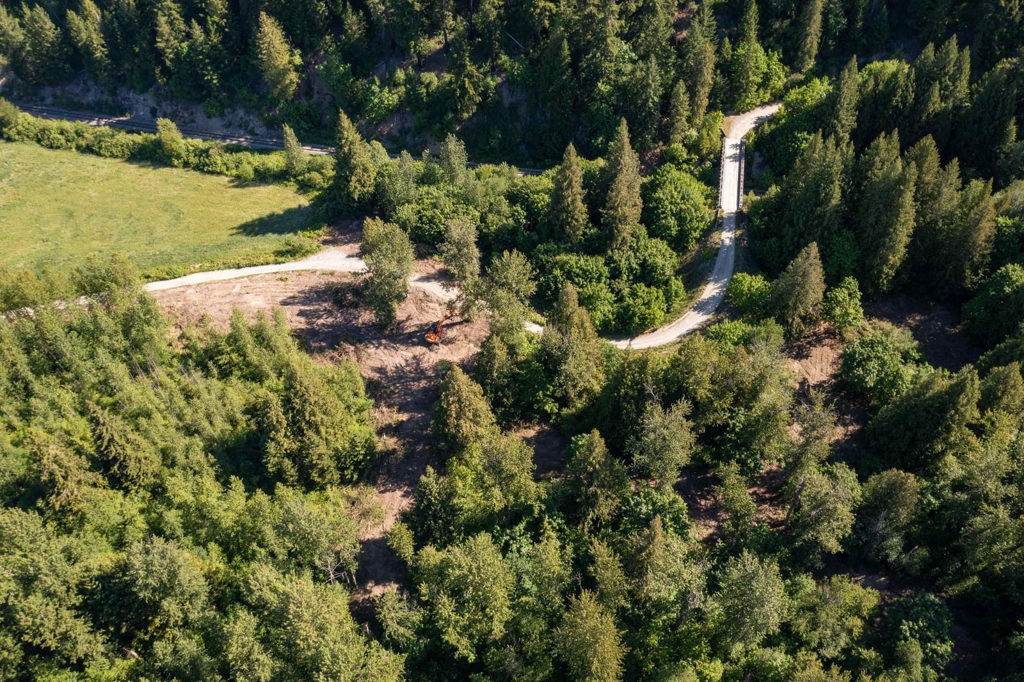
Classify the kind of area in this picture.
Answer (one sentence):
This image shows a forest.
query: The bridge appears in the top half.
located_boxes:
[718,133,745,214]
